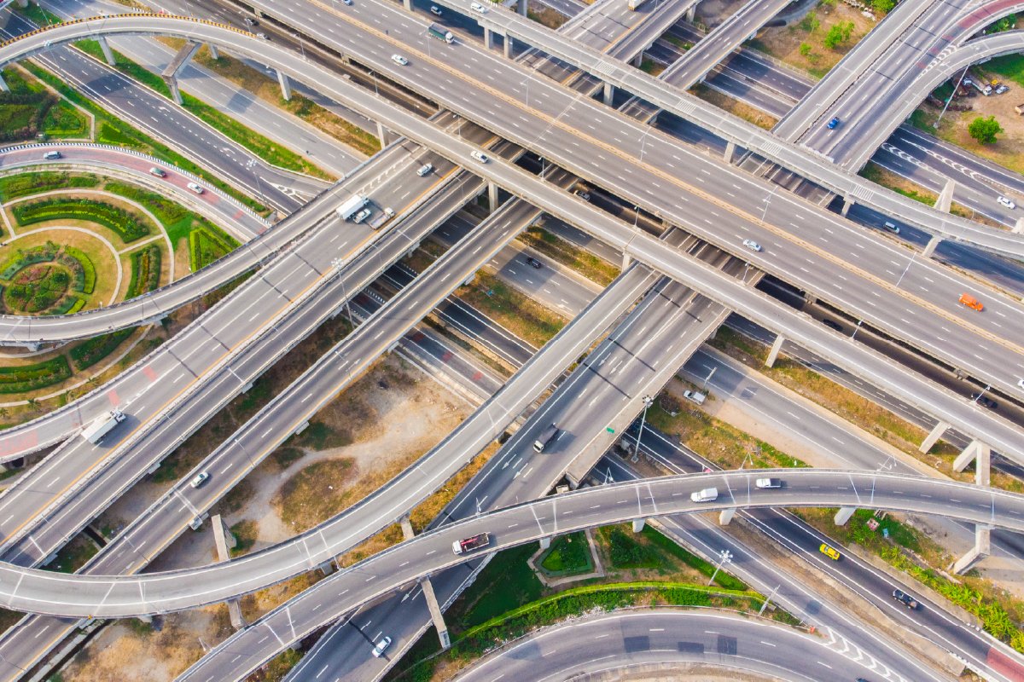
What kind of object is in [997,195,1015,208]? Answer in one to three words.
vehicle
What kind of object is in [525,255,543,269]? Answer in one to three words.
car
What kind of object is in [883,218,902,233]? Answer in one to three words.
vehicle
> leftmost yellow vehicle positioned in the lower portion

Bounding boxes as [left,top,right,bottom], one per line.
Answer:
[820,543,841,561]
